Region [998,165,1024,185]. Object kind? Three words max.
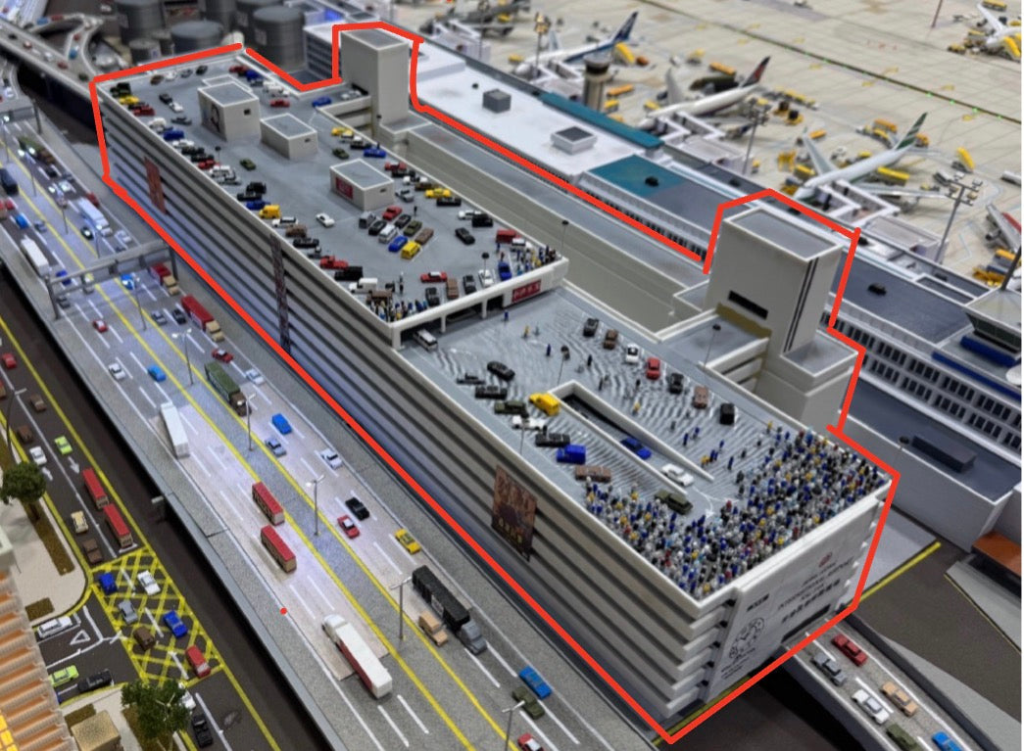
vehicle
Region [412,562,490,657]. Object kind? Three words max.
truck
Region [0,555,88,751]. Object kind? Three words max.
building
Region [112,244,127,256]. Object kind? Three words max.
vehicle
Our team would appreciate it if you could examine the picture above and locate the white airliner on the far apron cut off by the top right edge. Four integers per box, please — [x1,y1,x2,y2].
[960,8,1024,53]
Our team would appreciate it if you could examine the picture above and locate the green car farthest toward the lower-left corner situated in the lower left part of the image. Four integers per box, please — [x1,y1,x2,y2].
[46,665,83,683]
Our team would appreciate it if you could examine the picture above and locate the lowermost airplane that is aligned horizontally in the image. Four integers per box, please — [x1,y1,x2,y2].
[778,98,984,207]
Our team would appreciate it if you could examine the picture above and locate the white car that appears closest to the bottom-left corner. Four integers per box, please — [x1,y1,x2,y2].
[36,617,76,639]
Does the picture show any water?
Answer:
No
